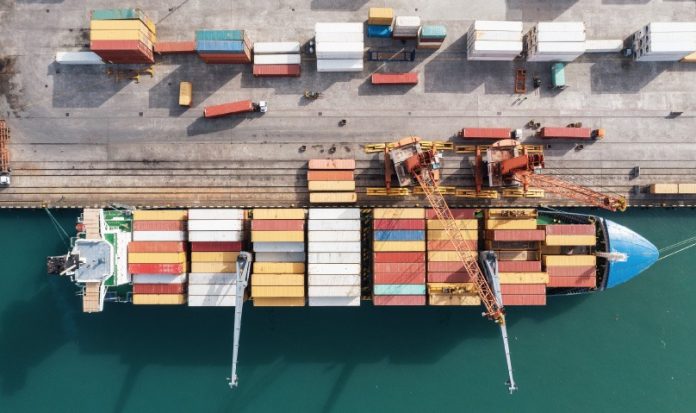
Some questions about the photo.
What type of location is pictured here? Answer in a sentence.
This image shows a port.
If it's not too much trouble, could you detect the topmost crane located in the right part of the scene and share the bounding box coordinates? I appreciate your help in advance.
[454,139,627,215]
